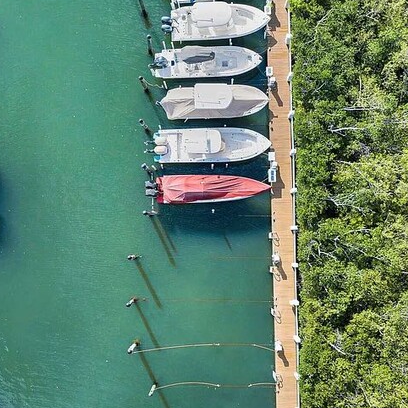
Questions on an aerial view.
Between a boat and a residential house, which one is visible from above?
boat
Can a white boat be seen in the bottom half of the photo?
No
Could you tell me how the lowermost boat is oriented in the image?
horizontally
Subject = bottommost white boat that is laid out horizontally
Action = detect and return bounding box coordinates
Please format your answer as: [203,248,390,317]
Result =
[144,123,272,164]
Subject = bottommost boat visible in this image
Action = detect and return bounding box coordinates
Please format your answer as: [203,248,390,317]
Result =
[146,174,271,204]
